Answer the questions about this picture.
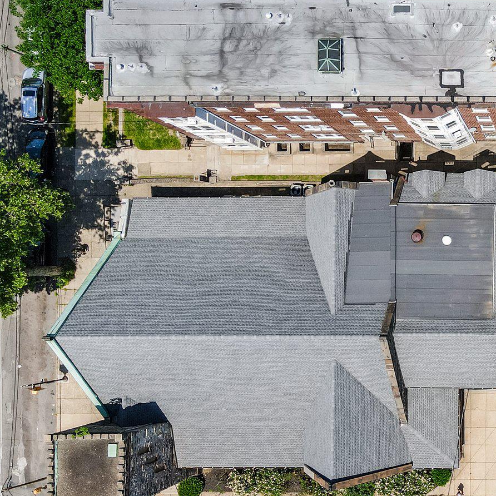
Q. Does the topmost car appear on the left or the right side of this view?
left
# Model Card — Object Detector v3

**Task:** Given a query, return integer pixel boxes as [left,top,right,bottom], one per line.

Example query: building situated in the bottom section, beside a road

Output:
[40,171,496,496]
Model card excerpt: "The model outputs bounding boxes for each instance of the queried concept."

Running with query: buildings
[40,171,496,496]
[87,0,496,153]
